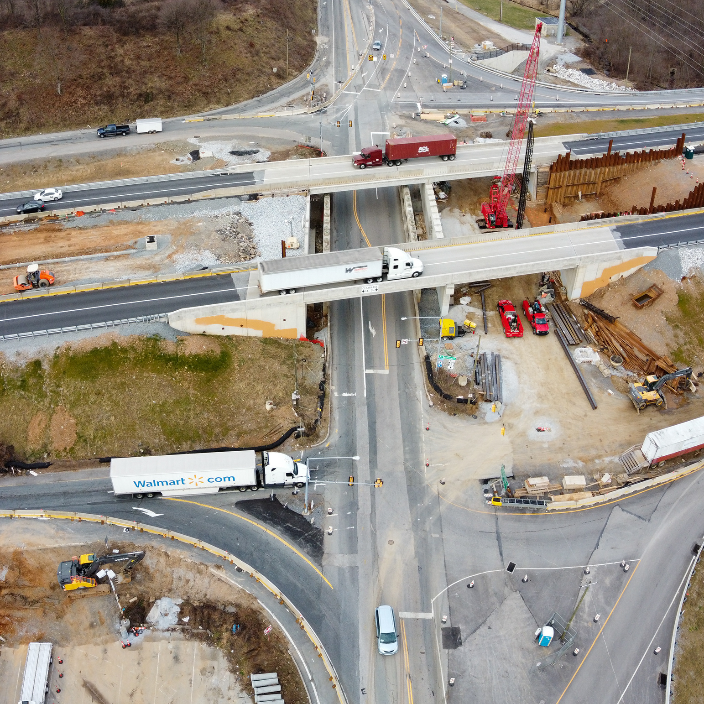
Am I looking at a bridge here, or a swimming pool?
bridge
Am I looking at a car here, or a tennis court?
car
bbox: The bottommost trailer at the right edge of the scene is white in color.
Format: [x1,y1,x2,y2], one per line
[640,416,704,471]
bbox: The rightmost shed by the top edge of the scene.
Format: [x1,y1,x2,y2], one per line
[534,17,568,36]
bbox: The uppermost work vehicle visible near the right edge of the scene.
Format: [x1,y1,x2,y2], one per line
[626,364,696,412]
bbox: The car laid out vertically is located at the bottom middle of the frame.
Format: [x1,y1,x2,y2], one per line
[375,605,400,657]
